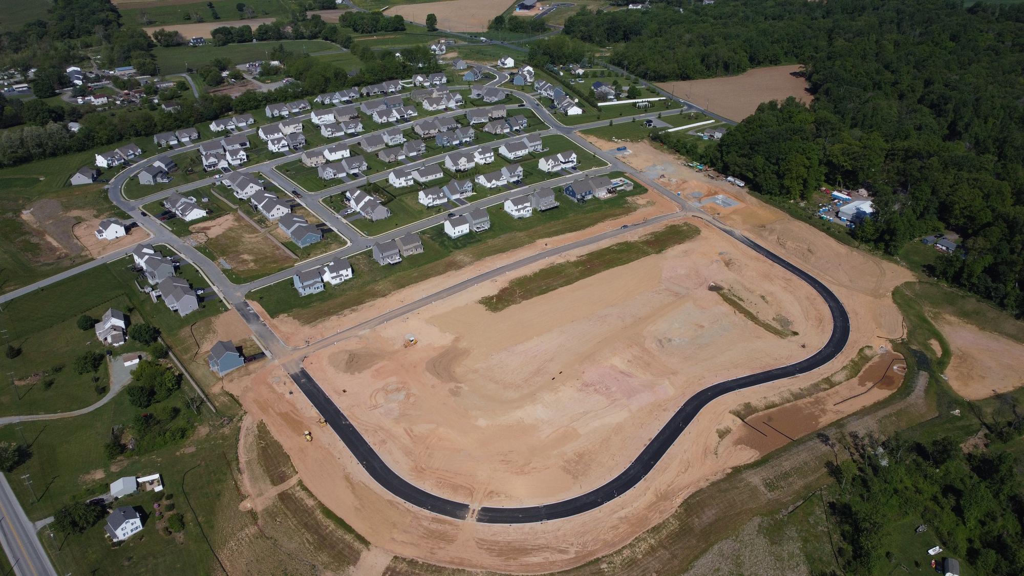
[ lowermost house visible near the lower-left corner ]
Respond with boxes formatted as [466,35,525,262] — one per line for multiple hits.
[101,497,143,545]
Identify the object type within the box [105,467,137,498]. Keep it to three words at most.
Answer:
building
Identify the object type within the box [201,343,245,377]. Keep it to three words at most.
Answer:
house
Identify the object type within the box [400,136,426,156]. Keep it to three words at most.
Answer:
house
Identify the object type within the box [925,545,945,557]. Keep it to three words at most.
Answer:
boat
